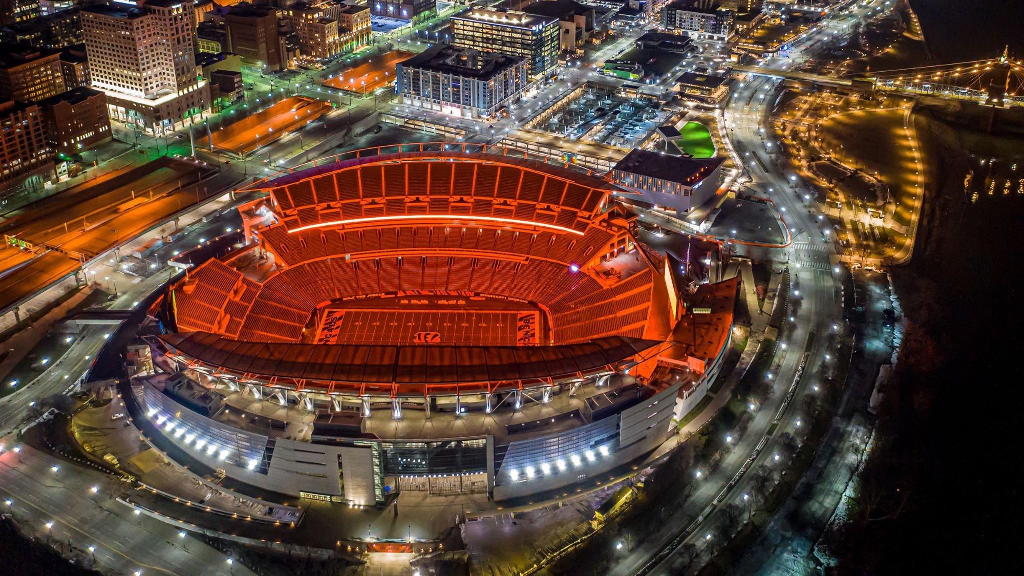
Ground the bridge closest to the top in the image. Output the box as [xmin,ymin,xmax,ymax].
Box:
[731,16,1024,113]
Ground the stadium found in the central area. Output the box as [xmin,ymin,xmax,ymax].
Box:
[132,142,740,507]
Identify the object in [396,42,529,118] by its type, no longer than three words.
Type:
building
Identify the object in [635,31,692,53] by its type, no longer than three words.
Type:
building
